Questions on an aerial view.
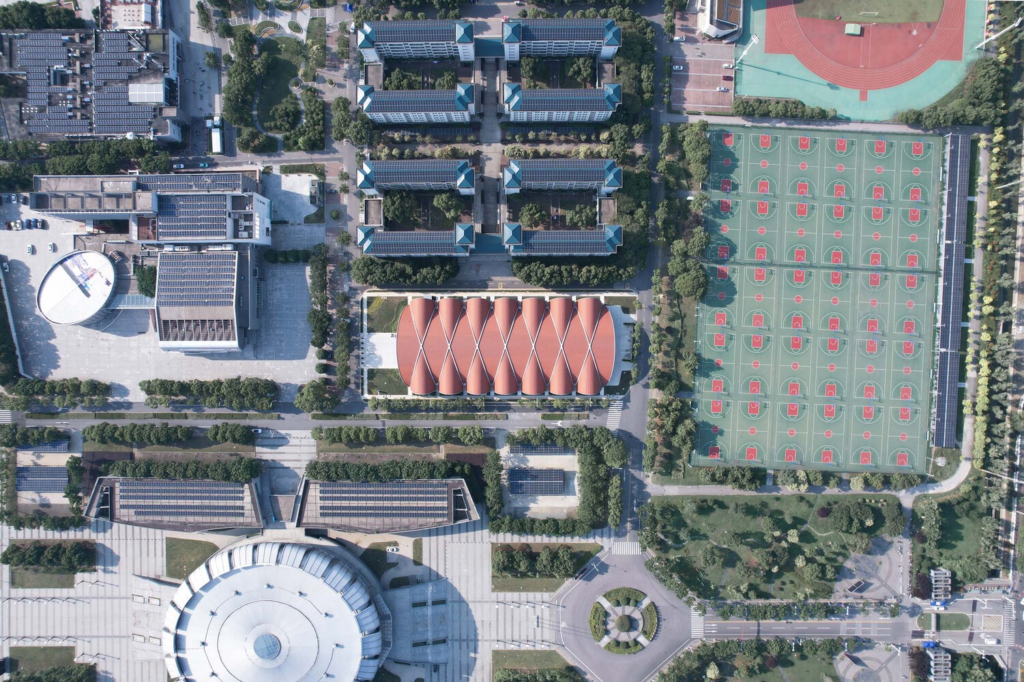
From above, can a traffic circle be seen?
Yes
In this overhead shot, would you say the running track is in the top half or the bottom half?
top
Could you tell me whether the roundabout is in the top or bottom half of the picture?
bottom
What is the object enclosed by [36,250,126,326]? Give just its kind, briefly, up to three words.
building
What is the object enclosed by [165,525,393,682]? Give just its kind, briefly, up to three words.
stadium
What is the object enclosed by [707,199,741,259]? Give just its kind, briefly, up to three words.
basketball court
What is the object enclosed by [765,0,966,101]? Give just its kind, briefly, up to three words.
running track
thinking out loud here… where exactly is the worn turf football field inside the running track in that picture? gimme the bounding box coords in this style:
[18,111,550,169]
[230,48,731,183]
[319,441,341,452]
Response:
[794,0,943,22]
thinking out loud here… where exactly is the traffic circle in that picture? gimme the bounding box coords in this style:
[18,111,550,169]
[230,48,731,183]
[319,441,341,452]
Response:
[589,587,657,654]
